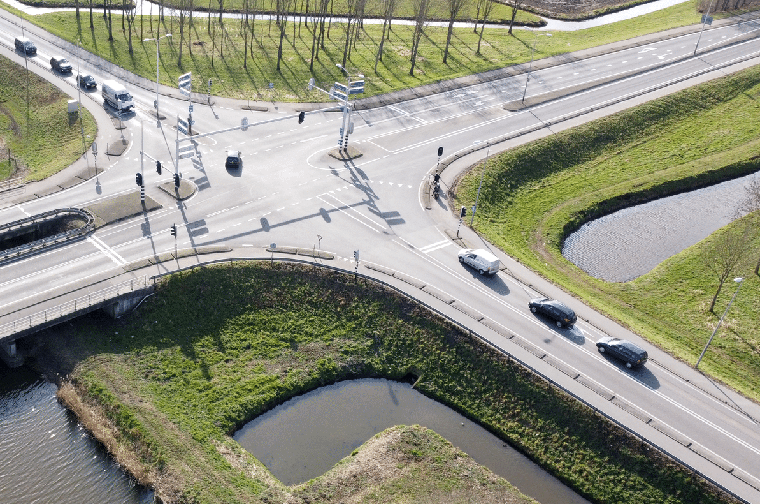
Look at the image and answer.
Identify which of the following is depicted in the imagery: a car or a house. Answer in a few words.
car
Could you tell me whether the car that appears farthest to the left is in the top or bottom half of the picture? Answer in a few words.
top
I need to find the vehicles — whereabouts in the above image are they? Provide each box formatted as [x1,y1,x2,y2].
[527,296,582,330]
[102,78,138,112]
[595,335,652,370]
[225,146,242,164]
[48,53,77,73]
[455,246,504,278]
[434,182,443,199]
[73,71,99,90]
[13,33,40,54]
